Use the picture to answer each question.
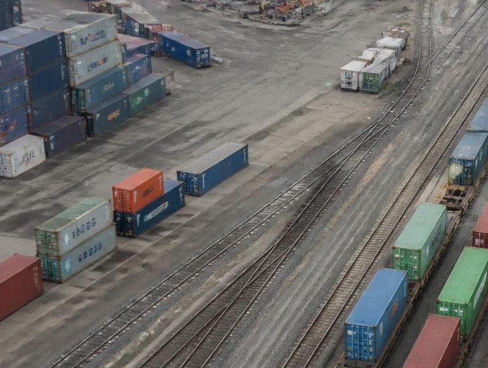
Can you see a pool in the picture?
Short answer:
No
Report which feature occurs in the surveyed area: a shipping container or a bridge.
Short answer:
shipping container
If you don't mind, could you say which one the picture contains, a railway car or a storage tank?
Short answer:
railway car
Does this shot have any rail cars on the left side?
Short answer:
No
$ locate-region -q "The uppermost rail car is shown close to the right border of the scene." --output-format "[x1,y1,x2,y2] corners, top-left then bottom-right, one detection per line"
[436,159,488,206]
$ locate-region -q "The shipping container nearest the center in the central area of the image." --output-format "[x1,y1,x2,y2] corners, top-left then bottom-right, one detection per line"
[178,142,249,196]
